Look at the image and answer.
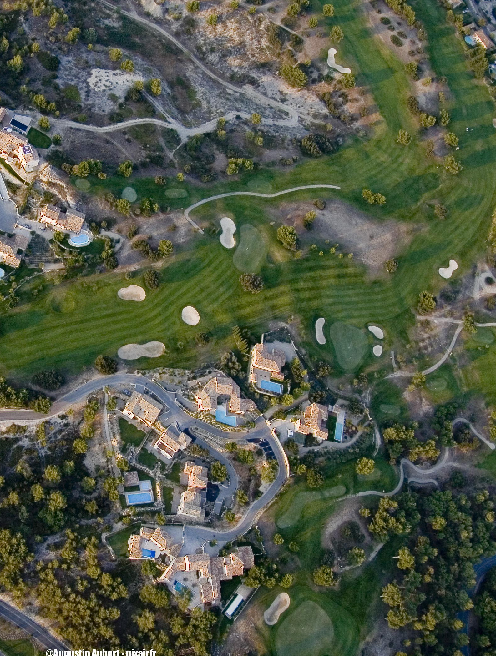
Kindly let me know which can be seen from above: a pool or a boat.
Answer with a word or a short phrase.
pool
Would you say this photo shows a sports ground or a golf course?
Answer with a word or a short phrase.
golf course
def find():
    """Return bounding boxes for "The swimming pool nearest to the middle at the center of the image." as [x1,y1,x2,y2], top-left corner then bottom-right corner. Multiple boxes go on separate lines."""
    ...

[260,378,284,395]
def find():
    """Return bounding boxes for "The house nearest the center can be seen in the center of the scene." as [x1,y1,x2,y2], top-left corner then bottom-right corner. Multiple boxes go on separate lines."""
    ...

[251,342,286,383]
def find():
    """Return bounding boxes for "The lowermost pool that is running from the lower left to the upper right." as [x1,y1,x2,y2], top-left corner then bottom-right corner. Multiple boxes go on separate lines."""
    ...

[224,594,245,618]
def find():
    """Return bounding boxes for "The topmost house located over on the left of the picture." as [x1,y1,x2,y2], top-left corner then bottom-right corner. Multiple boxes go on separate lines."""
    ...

[0,130,39,174]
